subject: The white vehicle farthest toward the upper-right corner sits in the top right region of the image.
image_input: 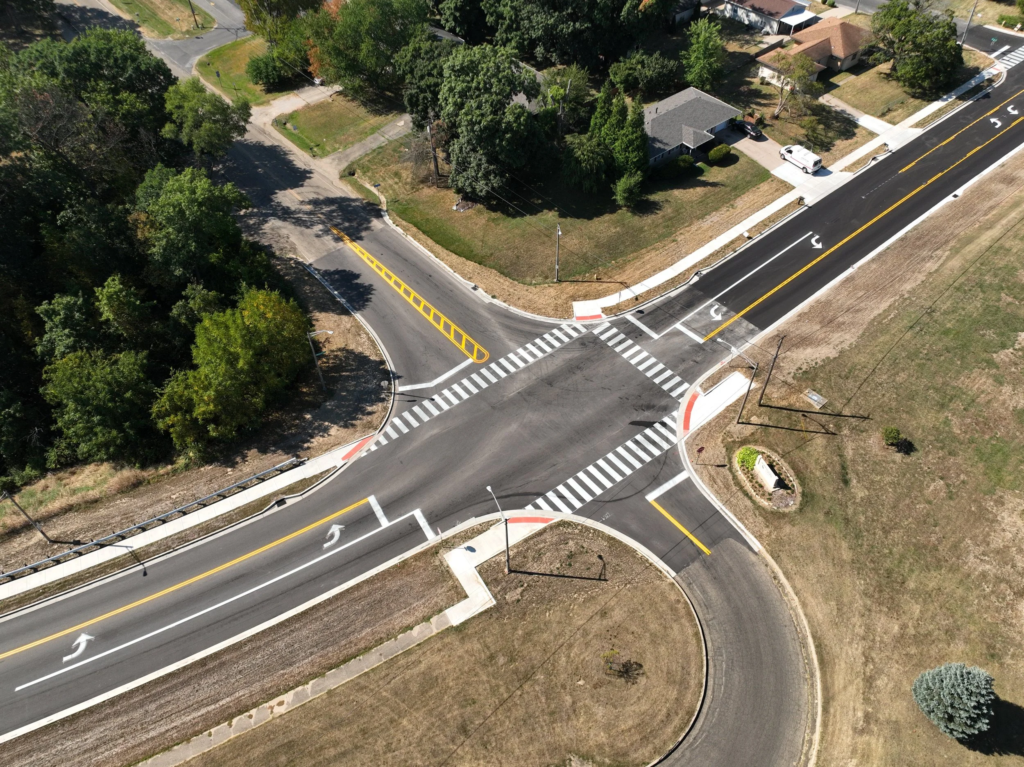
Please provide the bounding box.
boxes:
[779,147,822,175]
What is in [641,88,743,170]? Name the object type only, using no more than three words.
house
